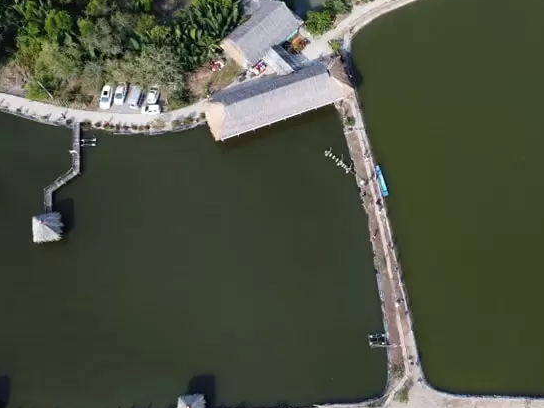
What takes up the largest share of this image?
water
